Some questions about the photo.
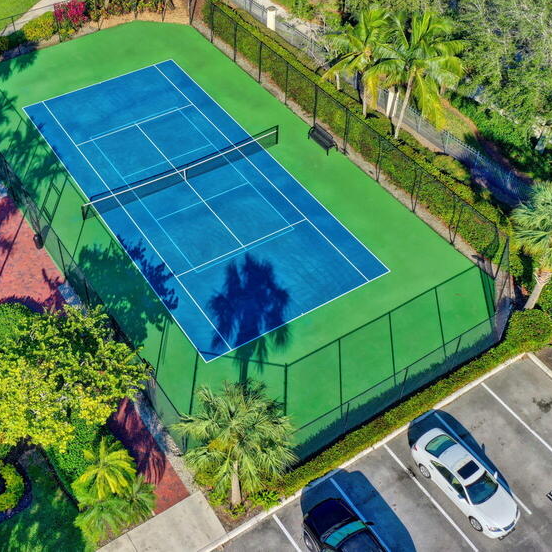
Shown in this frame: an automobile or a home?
automobile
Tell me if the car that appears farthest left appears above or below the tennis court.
below it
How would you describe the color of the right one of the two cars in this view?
white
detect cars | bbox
[410,429,523,538]
[300,501,380,552]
